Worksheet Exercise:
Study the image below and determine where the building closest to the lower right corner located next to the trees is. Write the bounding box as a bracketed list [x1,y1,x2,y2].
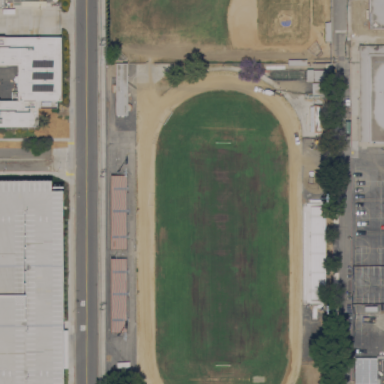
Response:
[354,358,380,384]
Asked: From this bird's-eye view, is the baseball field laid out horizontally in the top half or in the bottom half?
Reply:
top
